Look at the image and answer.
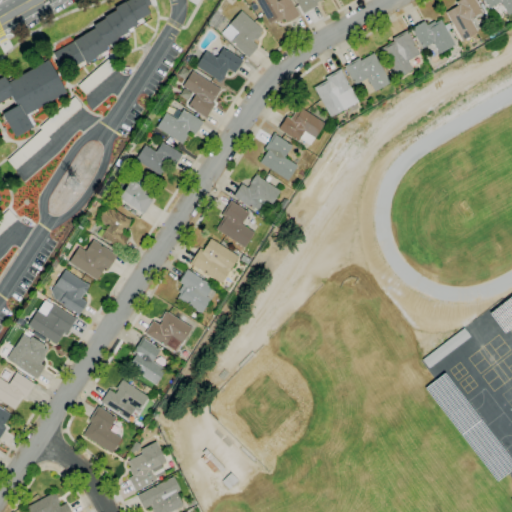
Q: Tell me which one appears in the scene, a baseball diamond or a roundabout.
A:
baseball diamond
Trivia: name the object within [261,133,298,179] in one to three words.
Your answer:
house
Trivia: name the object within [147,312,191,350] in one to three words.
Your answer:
house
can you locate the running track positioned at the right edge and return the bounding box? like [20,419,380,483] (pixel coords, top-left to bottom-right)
[375,84,512,301]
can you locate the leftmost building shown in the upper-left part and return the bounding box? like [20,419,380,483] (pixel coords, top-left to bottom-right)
[0,64,64,138]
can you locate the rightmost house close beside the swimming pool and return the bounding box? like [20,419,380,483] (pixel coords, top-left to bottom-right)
[223,10,268,54]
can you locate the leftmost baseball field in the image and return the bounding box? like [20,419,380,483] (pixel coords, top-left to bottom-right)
[210,350,312,474]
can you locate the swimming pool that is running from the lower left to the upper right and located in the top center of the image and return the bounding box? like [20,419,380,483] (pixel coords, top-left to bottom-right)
[200,30,217,49]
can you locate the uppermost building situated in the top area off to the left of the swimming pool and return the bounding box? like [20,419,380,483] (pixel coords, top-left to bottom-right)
[54,0,164,62]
